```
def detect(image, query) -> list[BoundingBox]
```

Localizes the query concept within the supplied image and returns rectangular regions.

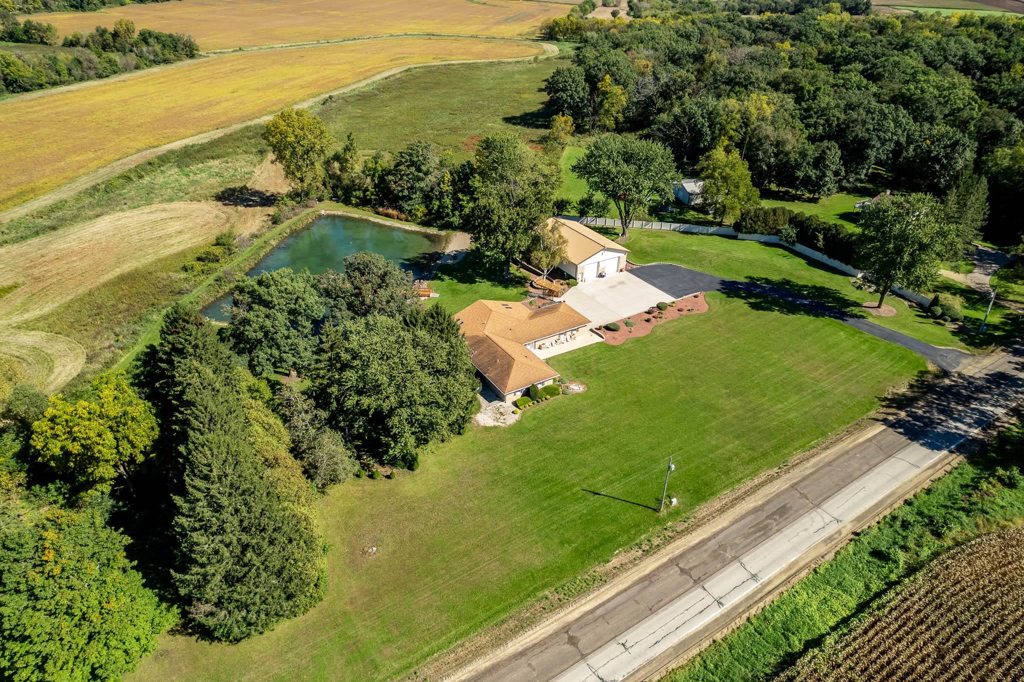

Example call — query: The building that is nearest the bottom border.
[450,300,593,404]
